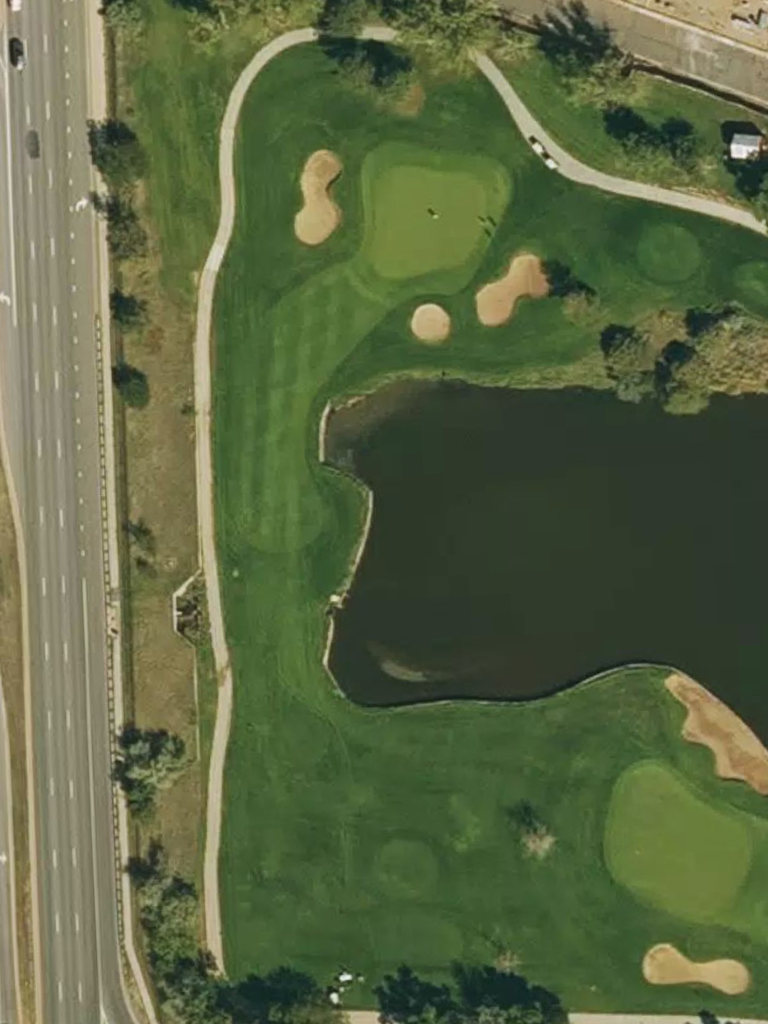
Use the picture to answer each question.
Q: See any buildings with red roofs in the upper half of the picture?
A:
No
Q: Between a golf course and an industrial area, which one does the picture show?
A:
golf course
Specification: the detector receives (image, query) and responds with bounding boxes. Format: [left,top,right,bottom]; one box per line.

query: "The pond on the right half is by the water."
[324,376,768,749]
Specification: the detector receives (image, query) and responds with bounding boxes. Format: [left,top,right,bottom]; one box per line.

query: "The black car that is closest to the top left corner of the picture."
[10,38,23,65]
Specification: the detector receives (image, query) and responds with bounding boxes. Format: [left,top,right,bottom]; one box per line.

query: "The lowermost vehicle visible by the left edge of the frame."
[27,130,40,158]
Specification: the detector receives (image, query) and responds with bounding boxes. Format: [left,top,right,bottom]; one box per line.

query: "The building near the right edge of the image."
[732,132,763,159]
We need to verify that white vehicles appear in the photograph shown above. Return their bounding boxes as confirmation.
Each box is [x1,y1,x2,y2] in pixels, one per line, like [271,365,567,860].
[330,990,340,1004]
[545,156,558,170]
[532,142,544,155]
[339,974,352,983]
[10,0,21,11]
